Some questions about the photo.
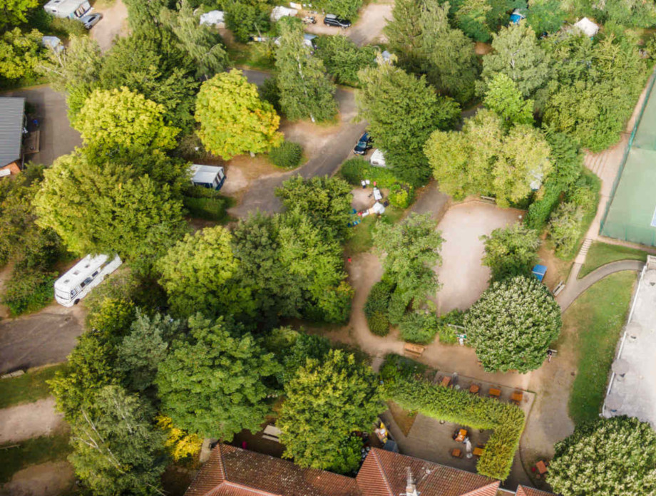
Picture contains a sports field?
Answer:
Yes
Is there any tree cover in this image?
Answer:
Yes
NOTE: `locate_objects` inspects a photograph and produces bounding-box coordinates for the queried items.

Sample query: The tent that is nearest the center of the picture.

[363,192,388,216]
